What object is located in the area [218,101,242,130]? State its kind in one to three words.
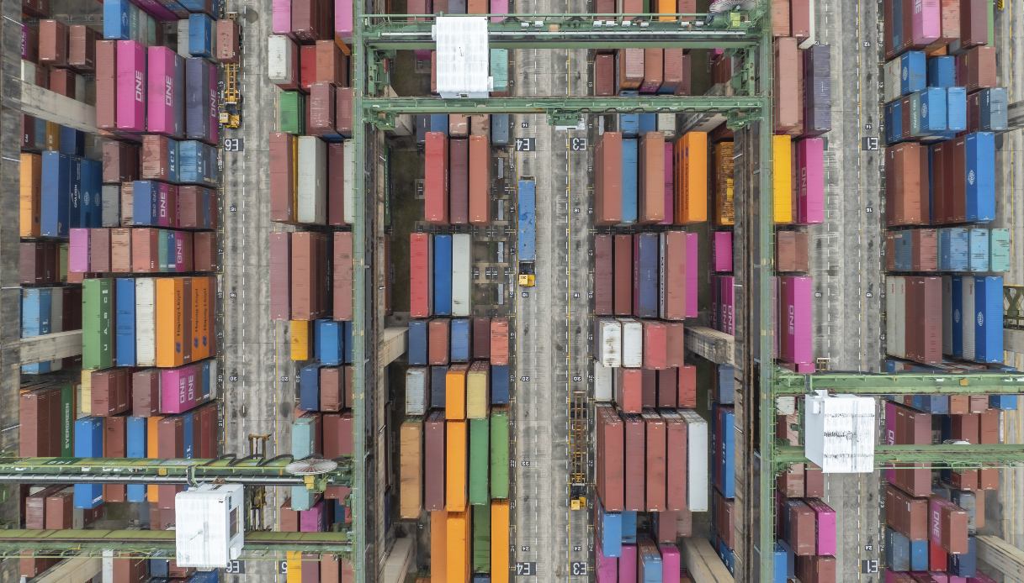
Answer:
truck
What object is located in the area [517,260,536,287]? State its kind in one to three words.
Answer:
vehicle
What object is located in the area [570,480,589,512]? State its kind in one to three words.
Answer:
vehicle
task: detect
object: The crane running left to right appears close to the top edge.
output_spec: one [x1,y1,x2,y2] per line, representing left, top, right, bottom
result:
[356,0,768,139]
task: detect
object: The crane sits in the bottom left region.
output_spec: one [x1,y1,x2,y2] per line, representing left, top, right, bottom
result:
[0,447,359,567]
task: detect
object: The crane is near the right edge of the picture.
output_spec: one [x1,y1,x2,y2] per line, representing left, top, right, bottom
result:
[767,364,1024,474]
